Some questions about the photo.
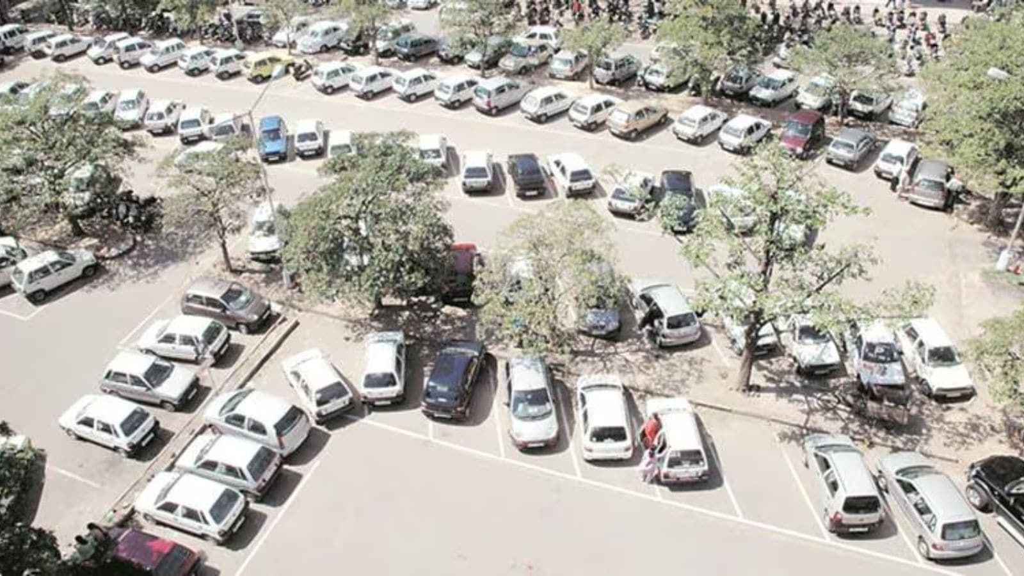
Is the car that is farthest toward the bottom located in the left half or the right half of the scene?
left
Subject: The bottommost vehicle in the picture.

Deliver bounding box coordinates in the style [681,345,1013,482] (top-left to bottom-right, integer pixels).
[88,522,207,576]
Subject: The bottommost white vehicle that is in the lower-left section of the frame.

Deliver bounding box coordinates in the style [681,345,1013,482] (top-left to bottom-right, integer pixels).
[133,469,251,545]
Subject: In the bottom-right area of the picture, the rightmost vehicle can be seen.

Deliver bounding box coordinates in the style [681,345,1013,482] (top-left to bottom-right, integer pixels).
[959,457,1024,535]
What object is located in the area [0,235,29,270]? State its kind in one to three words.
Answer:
car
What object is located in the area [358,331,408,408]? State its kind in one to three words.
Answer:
car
